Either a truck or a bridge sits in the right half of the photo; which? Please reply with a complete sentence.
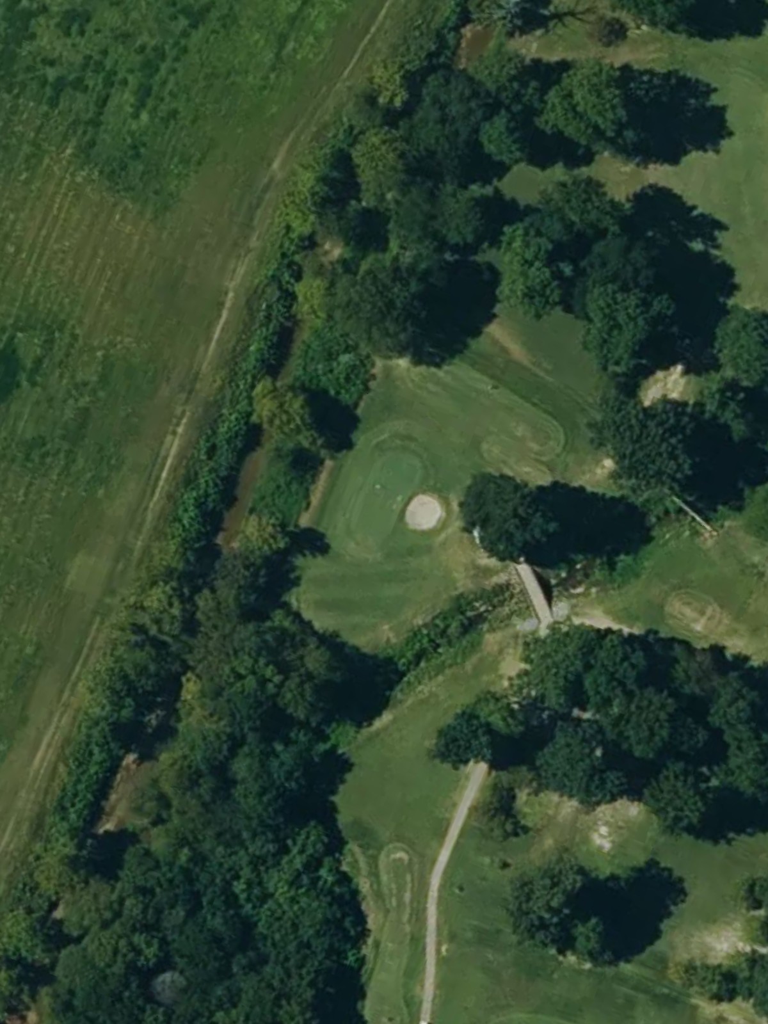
The feature located in the right half of the photo is a bridge.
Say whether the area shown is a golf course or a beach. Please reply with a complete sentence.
This looks like a golf course.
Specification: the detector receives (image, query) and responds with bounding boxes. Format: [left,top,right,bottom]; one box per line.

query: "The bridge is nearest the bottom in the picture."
[513,552,552,625]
